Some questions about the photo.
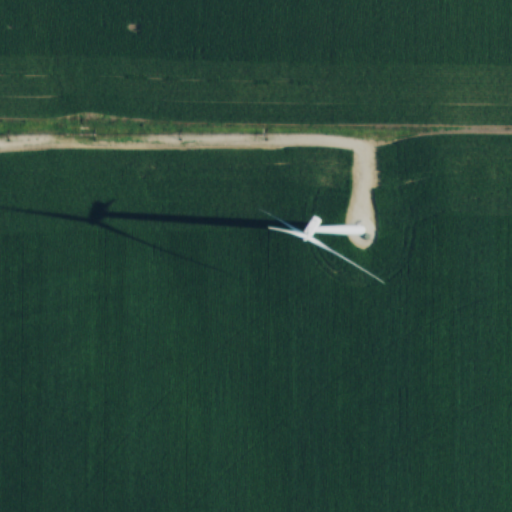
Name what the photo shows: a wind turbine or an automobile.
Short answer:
wind turbine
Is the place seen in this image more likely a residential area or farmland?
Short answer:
farmland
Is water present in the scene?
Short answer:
No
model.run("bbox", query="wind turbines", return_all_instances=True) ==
[257,210,386,284]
